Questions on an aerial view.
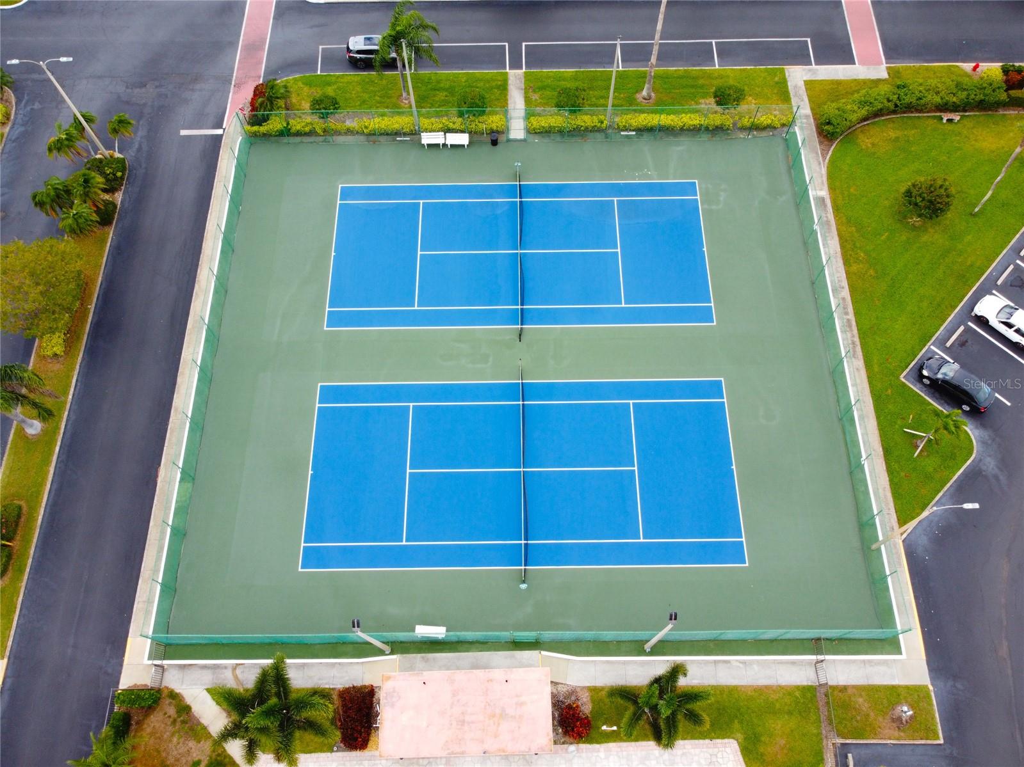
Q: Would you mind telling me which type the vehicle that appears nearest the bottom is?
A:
car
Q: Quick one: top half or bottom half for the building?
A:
bottom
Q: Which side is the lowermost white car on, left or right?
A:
right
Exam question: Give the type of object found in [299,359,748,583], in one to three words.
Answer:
tennis court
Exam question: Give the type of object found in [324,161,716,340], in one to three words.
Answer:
tennis court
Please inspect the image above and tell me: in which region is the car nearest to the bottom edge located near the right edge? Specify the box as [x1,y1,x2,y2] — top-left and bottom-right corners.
[919,352,1002,412]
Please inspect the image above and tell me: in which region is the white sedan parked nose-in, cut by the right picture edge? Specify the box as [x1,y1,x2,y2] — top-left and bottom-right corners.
[969,294,1024,352]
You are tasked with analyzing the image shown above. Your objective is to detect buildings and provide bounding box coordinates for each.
[379,666,554,762]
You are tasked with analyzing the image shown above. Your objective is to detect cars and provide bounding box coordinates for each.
[346,33,398,68]
[969,294,1024,352]
[919,352,1002,412]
